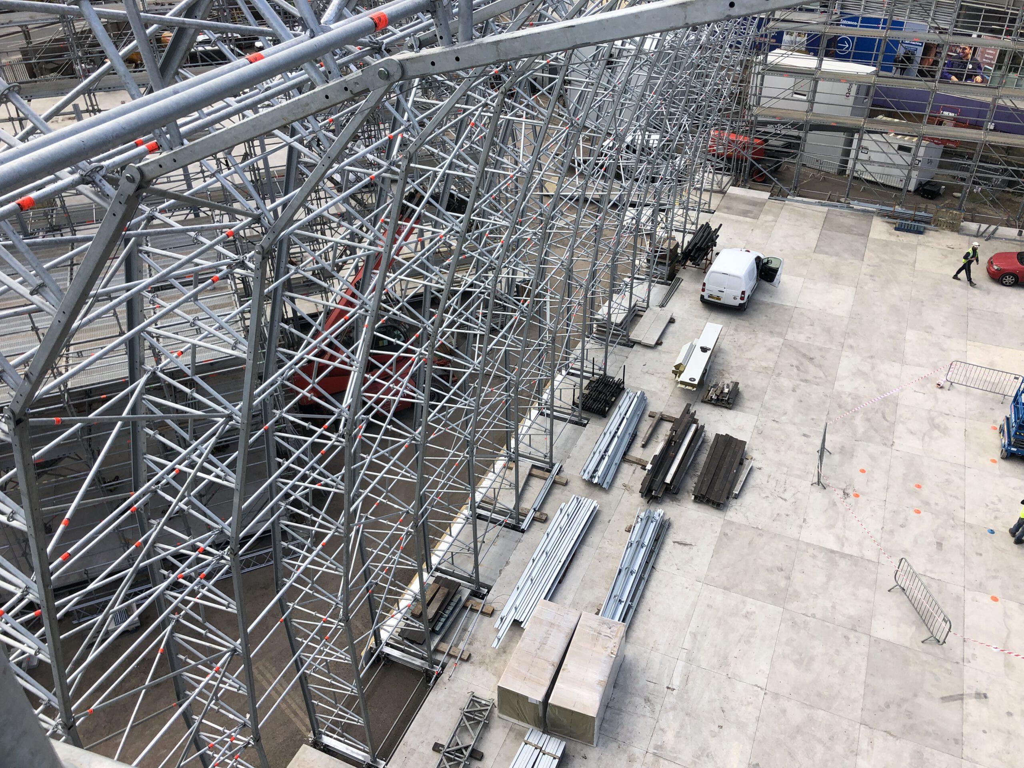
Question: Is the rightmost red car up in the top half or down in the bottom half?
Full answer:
The rightmost red car is in the top half of the image.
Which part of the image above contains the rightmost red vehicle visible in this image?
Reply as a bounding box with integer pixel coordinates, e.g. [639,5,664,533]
[983,250,1024,287]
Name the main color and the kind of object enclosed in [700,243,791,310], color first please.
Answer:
white van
